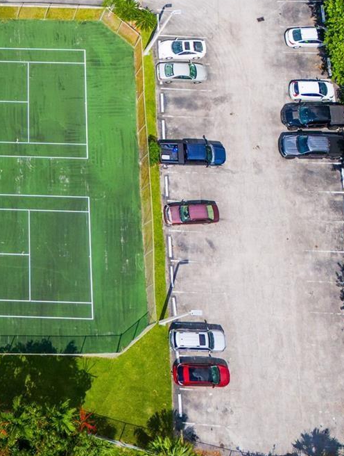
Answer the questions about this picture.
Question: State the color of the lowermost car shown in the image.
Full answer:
In this view, the lowermost car is red.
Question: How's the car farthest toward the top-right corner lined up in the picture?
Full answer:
The car farthest toward the top-right corner is oriented from side to side.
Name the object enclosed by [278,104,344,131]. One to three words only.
truck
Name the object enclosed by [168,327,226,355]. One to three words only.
car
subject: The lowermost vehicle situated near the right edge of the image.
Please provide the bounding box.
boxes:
[276,134,344,160]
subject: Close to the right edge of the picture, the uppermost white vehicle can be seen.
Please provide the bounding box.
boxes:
[282,26,335,50]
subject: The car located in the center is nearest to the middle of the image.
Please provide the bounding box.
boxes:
[163,201,221,226]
